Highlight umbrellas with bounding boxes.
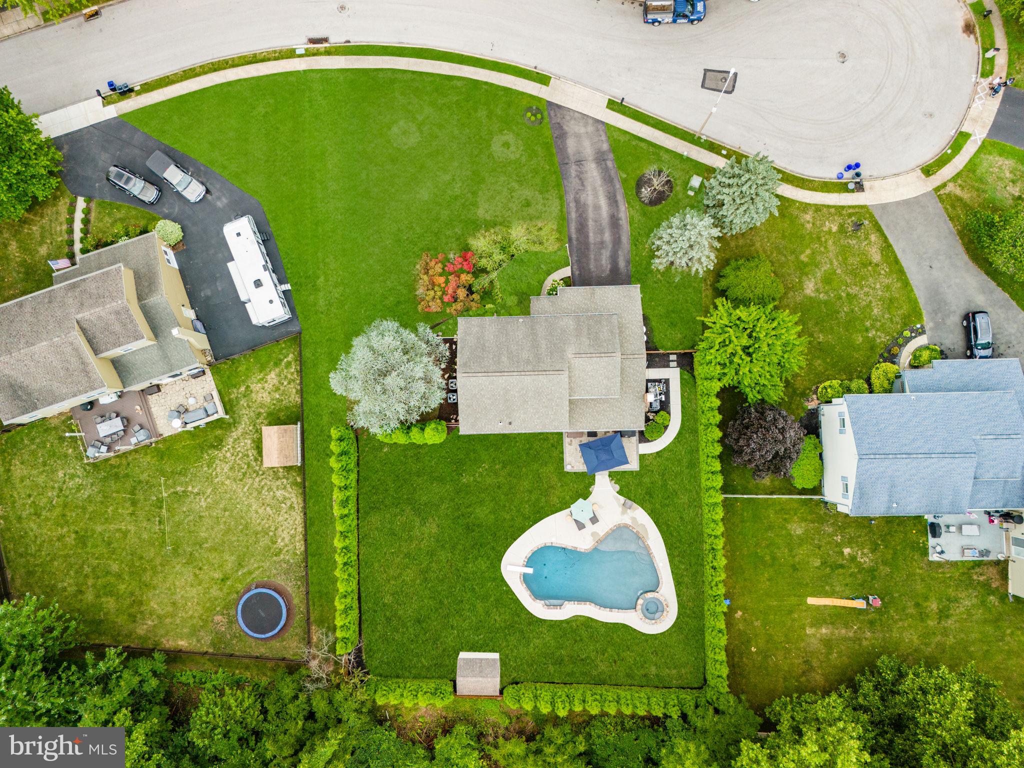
[578,433,629,475]
[571,498,594,524]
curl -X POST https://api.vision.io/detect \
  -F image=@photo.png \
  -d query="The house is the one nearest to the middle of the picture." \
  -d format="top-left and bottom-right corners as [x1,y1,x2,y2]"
[457,283,655,436]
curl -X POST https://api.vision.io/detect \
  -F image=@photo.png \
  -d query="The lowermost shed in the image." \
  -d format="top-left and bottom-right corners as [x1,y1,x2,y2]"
[457,649,499,693]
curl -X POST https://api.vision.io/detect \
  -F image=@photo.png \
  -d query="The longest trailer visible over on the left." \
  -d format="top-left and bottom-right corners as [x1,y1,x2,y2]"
[226,216,296,326]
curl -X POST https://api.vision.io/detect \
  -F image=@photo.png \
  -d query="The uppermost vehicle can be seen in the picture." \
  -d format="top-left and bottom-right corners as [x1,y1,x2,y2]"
[645,0,708,26]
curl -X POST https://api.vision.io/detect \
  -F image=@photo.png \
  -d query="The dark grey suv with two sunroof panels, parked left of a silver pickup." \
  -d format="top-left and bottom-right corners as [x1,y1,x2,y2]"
[108,165,164,205]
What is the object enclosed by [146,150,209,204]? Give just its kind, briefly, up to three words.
truck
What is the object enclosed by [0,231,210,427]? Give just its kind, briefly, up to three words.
house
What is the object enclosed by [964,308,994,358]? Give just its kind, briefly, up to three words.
car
